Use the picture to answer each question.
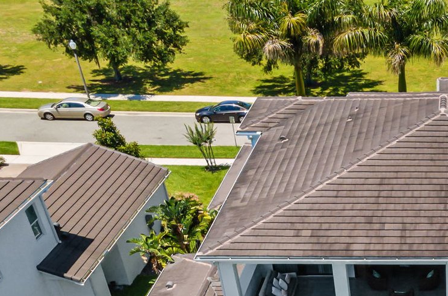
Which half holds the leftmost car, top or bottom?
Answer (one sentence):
The top half of the photo is where the leftmost car is.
